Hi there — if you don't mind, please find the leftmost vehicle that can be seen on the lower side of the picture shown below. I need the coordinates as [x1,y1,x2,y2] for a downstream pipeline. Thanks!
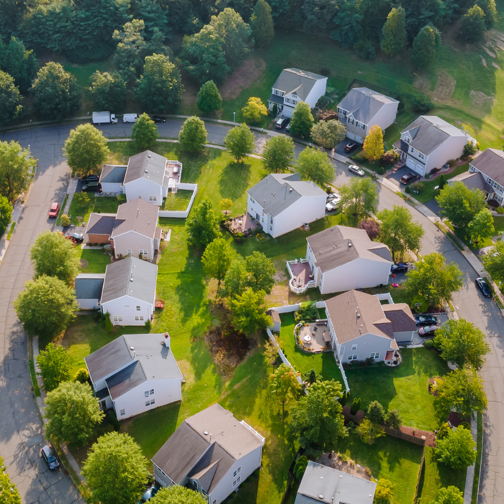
[41,445,60,470]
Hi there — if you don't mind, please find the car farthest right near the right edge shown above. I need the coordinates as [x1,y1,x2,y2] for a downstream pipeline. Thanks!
[473,278,493,297]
